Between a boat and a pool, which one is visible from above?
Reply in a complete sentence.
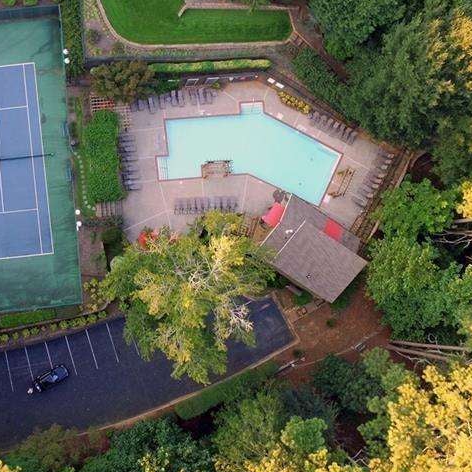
Looking from above, you can make out a pool.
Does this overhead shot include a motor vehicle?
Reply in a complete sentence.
Yes, the frame does contain a motor vehicle.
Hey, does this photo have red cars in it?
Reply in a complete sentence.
No, no red car is visible in the scene.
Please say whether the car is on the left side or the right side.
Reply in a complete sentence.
The car sits on the left side.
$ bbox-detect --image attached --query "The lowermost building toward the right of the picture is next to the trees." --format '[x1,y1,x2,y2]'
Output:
[260,193,371,304]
